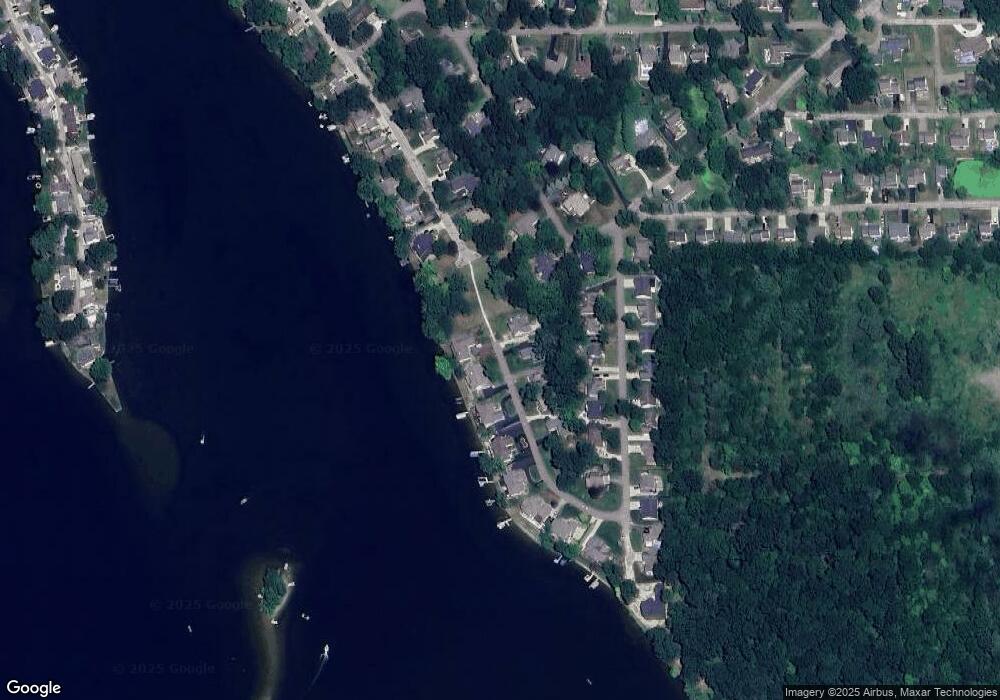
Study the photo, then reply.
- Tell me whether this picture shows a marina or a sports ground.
marina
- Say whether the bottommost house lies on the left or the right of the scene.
right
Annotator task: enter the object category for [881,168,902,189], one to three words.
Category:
house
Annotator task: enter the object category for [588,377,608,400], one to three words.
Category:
house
